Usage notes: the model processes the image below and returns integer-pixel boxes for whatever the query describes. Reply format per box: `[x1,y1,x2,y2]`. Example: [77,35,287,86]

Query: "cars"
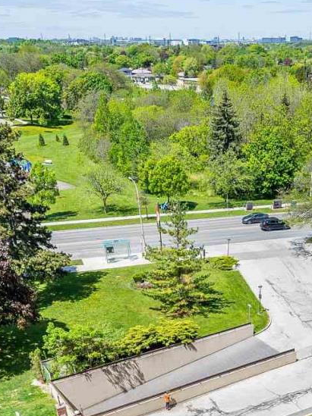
[242,211,270,224]
[260,217,291,231]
